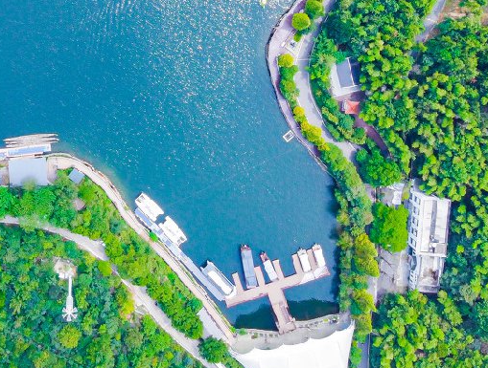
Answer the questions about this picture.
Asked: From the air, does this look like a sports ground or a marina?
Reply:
marina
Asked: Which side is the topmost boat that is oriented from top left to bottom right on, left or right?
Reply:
left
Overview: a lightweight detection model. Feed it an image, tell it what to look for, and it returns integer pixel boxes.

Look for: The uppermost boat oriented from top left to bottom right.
[134,192,166,222]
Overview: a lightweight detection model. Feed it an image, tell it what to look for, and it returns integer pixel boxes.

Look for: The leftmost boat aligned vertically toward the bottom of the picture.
[241,246,259,292]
